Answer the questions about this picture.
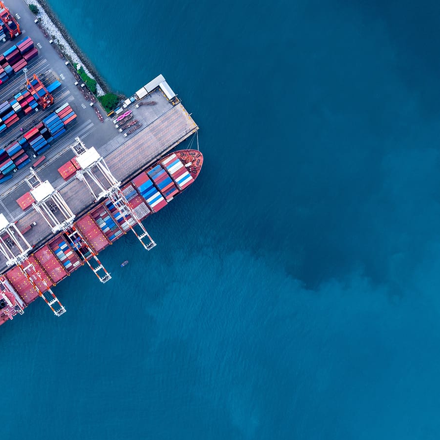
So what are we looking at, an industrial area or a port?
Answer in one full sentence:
What you see here is a port.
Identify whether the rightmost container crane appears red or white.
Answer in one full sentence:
The color of the rightmost container crane is white.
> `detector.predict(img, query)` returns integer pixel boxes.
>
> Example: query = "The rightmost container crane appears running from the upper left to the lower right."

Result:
[67,135,157,250]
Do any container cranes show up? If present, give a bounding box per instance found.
[24,73,55,112]
[0,2,23,45]
[0,213,67,316]
[21,168,111,283]
[67,135,157,250]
